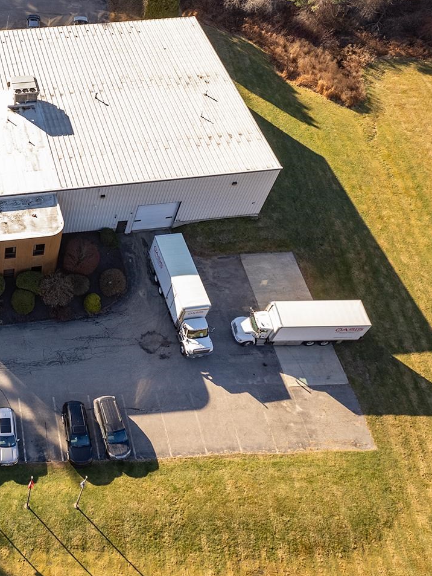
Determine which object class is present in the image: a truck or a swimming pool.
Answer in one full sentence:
Of the two, only a truck appears.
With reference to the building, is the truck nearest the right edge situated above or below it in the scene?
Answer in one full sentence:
Looking at the scene, the truck nearest the right edge is located below the building.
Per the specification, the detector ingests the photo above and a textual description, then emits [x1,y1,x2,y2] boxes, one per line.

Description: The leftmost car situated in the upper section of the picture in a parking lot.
[24,15,42,29]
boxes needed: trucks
[150,233,220,357]
[230,300,371,345]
